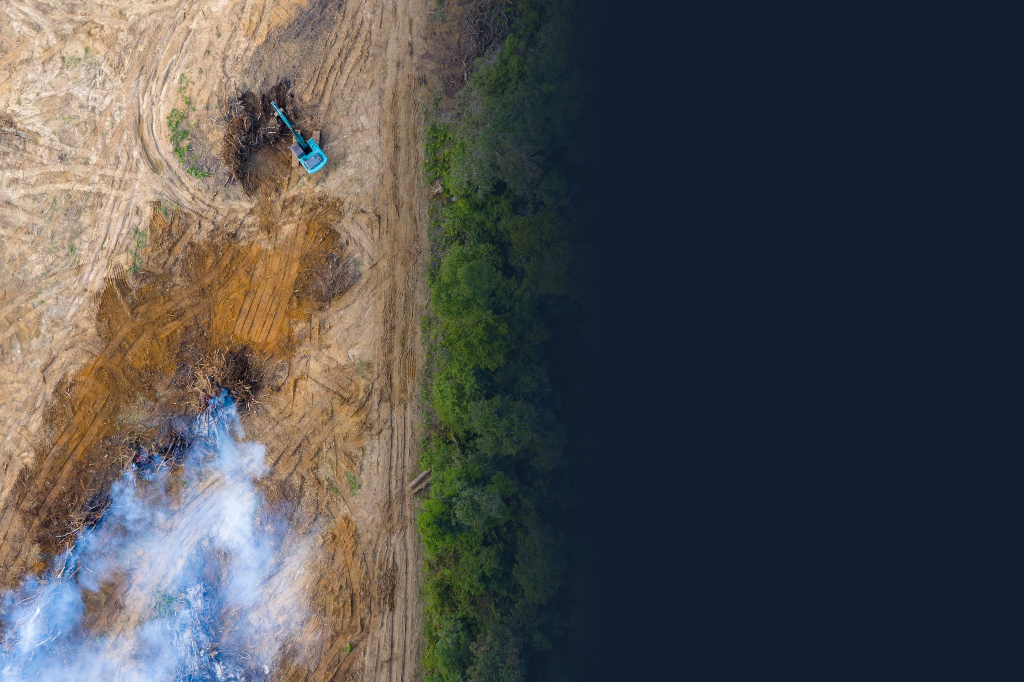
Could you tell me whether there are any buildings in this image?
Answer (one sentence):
No, there's no building here.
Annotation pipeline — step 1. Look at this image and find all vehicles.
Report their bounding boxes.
[265,98,330,175]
